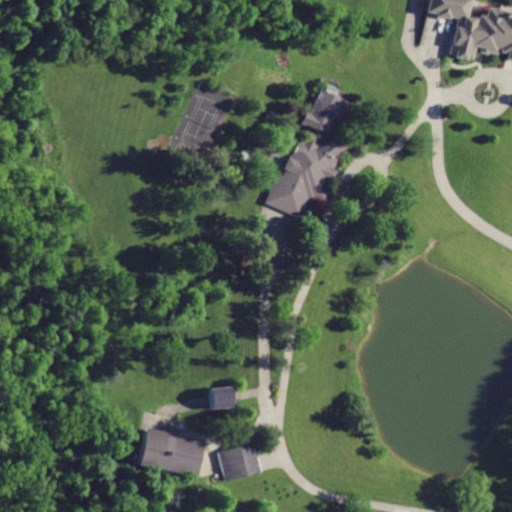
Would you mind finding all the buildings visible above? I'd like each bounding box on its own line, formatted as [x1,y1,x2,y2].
[208,386,234,410]
[142,429,206,475]
[264,84,348,217]
[219,448,262,480]
[430,0,512,62]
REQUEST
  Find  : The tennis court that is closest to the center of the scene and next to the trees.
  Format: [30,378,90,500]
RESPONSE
[170,91,236,150]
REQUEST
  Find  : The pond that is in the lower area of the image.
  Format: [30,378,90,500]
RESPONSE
[358,255,512,480]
